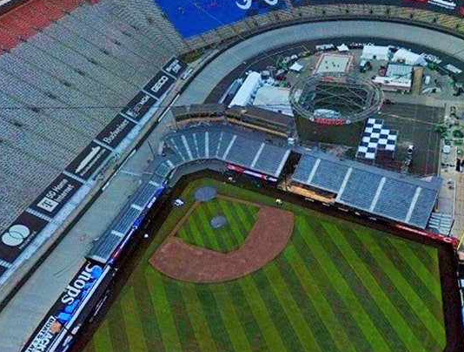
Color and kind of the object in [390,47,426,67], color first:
white tent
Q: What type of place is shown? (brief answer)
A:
sports ground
